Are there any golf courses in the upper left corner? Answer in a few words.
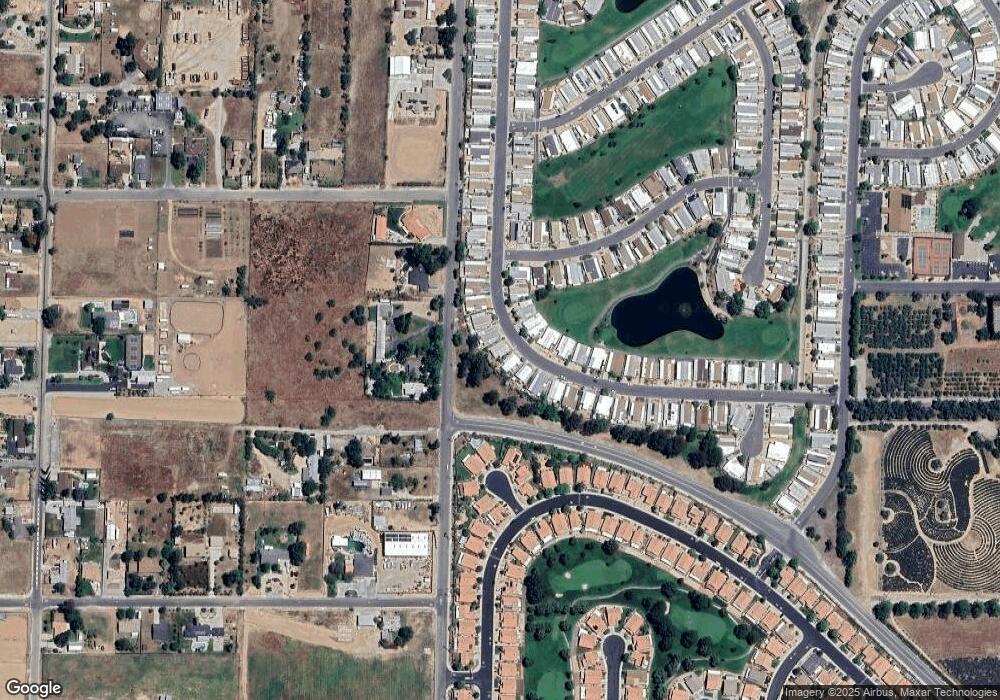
No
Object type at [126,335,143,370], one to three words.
barn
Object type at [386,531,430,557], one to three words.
building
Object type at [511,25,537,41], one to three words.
house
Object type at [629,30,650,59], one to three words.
house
